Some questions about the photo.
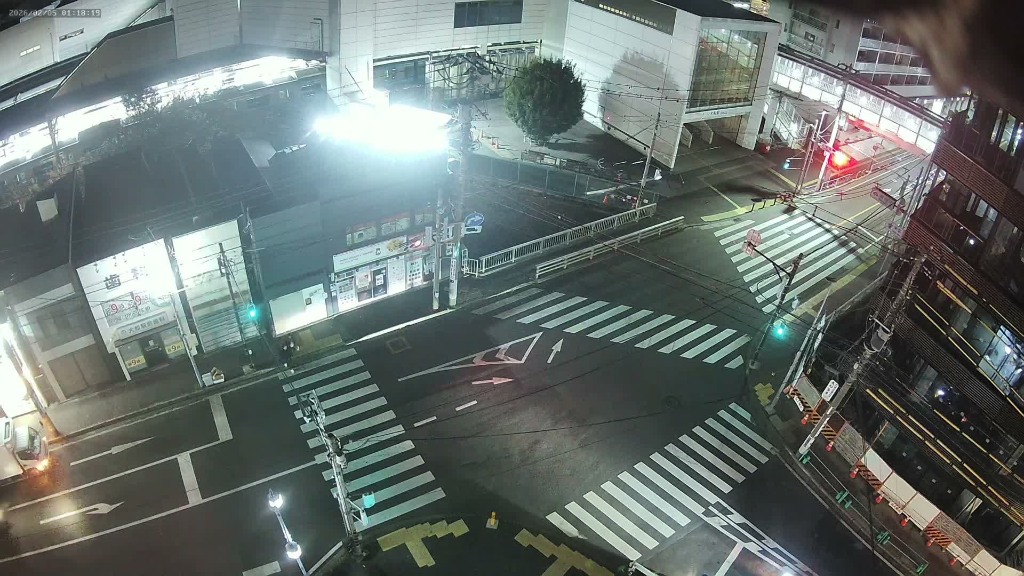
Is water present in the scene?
No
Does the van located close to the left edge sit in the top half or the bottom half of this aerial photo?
bottom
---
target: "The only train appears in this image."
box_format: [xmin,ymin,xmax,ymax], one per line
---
[0,67,317,188]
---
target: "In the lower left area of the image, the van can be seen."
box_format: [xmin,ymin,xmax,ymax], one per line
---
[0,428,48,492]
